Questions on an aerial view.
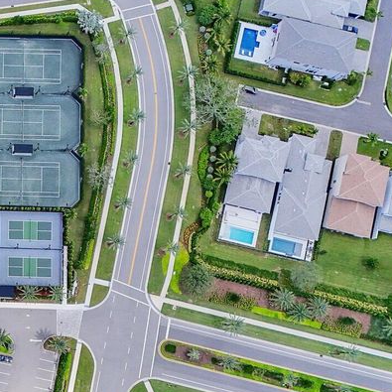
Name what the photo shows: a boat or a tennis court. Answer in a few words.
tennis court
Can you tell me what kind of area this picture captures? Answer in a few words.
residential area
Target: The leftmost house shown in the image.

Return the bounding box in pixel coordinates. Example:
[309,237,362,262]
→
[226,137,291,213]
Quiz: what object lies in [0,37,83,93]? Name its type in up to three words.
tennis court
